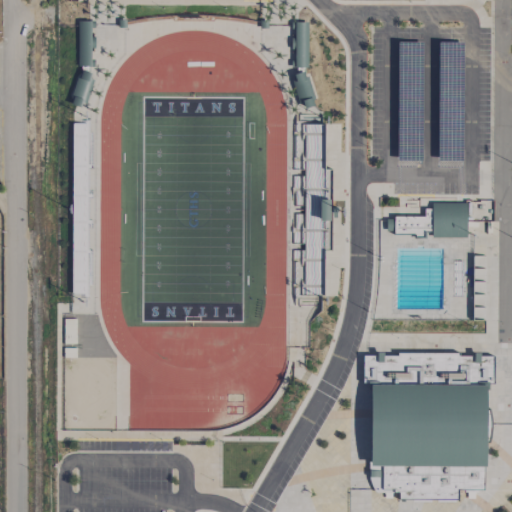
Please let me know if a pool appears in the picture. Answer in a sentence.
Yes, the photo shows a pool.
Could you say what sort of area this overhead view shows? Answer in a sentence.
It's a sports ground.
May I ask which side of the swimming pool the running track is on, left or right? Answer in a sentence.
You can see the running track positioned to the left of the swimming pool.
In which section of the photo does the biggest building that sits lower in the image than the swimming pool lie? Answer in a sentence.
The biggest building that sits lower in the image than the swimming pool is in the bottom right part of the image.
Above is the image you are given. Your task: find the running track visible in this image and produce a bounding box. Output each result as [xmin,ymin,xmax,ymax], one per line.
[101,31,288,428]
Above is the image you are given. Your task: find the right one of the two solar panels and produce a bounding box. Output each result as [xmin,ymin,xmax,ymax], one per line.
[440,42,465,160]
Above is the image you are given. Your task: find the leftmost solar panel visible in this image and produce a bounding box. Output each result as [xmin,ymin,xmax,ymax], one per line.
[400,42,425,160]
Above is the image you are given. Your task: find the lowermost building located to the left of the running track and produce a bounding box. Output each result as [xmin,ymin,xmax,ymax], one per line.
[72,69,96,107]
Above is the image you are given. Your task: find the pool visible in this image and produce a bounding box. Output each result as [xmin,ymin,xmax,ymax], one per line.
[397,248,444,310]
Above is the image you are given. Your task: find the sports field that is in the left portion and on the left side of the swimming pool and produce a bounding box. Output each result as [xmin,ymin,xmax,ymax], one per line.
[122,92,267,327]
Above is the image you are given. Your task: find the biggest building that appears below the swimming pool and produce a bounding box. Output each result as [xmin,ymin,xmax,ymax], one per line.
[364,353,496,500]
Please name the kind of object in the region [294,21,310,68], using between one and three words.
building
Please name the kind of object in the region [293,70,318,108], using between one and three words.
building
